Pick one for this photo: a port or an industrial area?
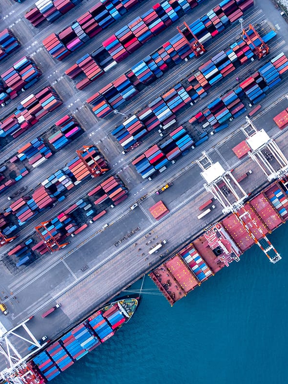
port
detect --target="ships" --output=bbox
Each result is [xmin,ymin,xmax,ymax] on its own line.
[149,174,288,306]
[0,297,140,384]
